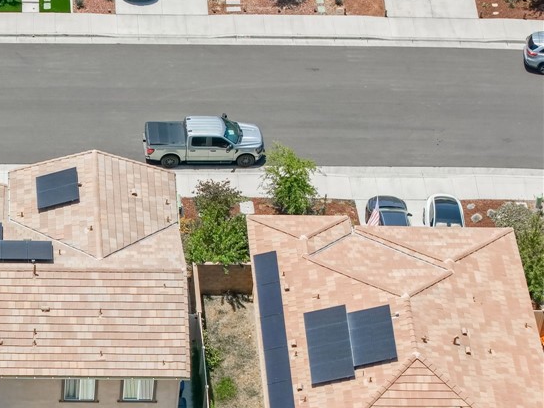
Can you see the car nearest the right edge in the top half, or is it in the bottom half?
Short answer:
top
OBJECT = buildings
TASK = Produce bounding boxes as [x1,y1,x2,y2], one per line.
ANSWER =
[246,214,544,408]
[0,148,192,408]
